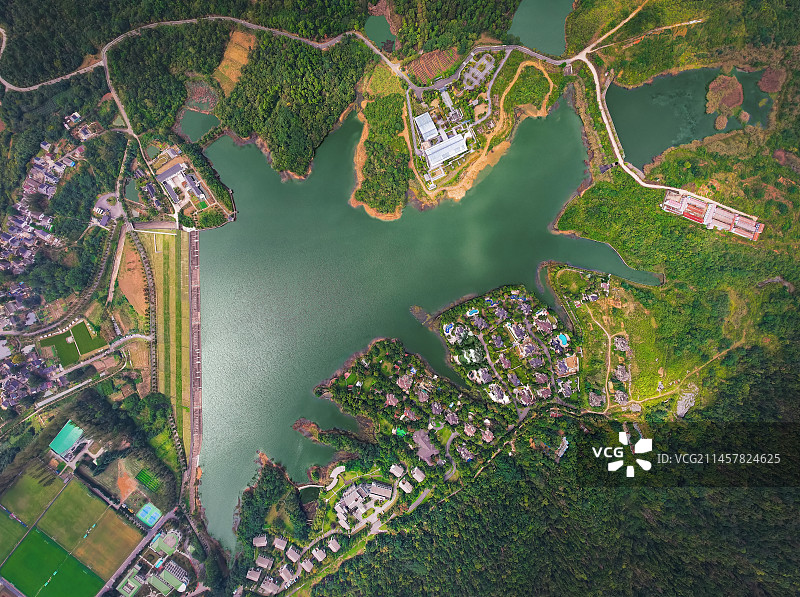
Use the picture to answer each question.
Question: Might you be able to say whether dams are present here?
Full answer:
Yes, the frame does contain a dam.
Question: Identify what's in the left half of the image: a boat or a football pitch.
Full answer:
There is a football pitch in the left half of the image.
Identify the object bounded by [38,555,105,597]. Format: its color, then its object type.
green soccer field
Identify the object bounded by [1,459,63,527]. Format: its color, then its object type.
green soccer field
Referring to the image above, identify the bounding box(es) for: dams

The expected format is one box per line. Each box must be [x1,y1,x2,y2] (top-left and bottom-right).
[136,230,202,512]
